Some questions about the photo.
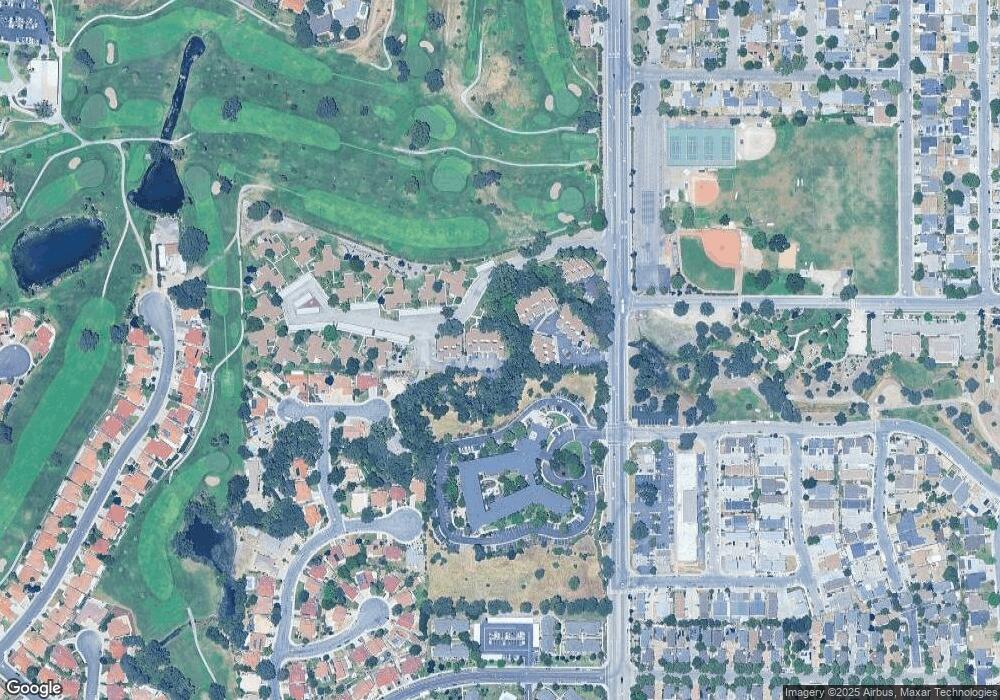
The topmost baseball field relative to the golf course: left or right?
on the right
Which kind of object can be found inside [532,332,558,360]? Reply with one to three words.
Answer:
house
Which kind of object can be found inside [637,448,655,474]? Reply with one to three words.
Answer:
building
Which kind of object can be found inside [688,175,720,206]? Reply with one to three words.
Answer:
baseball field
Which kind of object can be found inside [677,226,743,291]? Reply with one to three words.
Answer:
baseball field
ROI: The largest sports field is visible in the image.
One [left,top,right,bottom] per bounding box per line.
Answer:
[693,121,897,295]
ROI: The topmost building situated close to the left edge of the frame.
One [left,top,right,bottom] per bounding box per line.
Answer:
[27,59,58,105]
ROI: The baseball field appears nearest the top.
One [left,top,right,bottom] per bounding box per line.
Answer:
[736,119,776,160]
